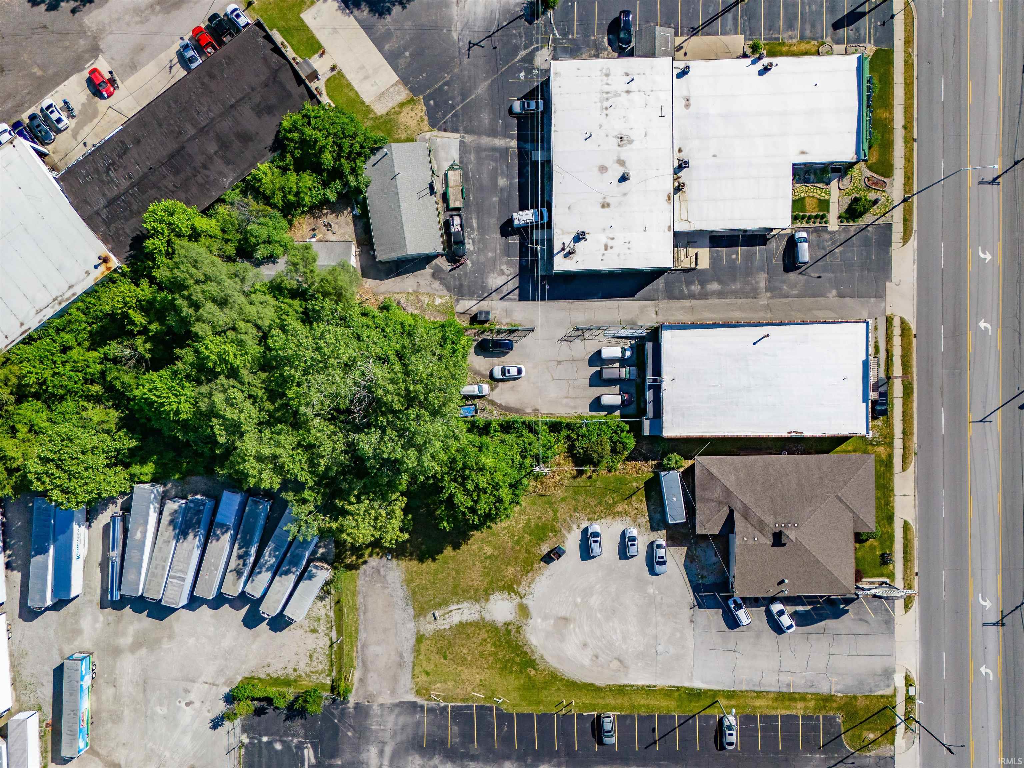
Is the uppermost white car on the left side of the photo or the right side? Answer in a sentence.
It is on the left.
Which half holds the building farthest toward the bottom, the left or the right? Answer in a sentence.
The building farthest toward the bottom appears in the right half of the scene.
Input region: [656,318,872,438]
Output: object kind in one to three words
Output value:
building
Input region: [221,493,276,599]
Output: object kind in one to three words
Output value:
trailer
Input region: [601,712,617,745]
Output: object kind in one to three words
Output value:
car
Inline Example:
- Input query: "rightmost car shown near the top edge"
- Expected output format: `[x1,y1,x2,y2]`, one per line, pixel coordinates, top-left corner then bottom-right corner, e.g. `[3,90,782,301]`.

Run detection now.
[618,9,634,53]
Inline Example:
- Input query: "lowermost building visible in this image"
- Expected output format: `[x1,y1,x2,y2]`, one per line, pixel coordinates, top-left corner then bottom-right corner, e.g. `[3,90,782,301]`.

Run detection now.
[694,453,875,597]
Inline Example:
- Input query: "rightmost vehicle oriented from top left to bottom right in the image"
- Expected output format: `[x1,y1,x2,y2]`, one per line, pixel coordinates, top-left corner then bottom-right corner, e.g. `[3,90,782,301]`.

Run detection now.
[769,599,797,635]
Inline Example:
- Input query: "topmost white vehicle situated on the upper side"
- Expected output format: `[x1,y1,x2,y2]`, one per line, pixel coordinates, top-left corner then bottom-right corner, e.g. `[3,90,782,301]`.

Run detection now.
[225,1,251,30]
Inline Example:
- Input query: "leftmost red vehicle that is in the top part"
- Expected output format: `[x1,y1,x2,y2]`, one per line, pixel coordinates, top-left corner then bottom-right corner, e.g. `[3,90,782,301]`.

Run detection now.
[88,66,116,102]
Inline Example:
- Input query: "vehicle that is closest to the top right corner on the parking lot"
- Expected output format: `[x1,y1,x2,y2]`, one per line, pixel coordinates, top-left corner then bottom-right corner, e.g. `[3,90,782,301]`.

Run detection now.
[793,230,811,267]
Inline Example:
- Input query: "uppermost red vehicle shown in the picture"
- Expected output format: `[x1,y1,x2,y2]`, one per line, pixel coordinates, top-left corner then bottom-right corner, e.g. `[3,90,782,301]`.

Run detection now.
[190,24,218,56]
